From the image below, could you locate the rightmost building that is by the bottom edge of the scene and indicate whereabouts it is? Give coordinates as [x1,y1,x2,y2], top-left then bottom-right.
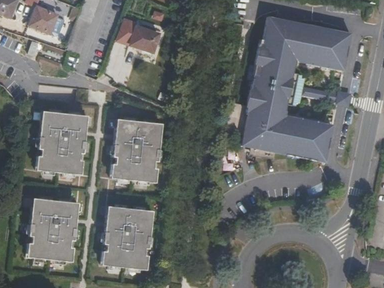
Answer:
[100,206,156,276]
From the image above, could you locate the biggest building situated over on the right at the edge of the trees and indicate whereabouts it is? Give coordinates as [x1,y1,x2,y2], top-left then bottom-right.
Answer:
[241,17,351,163]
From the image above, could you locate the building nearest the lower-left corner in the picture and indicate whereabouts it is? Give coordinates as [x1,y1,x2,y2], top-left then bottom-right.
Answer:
[26,198,81,268]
